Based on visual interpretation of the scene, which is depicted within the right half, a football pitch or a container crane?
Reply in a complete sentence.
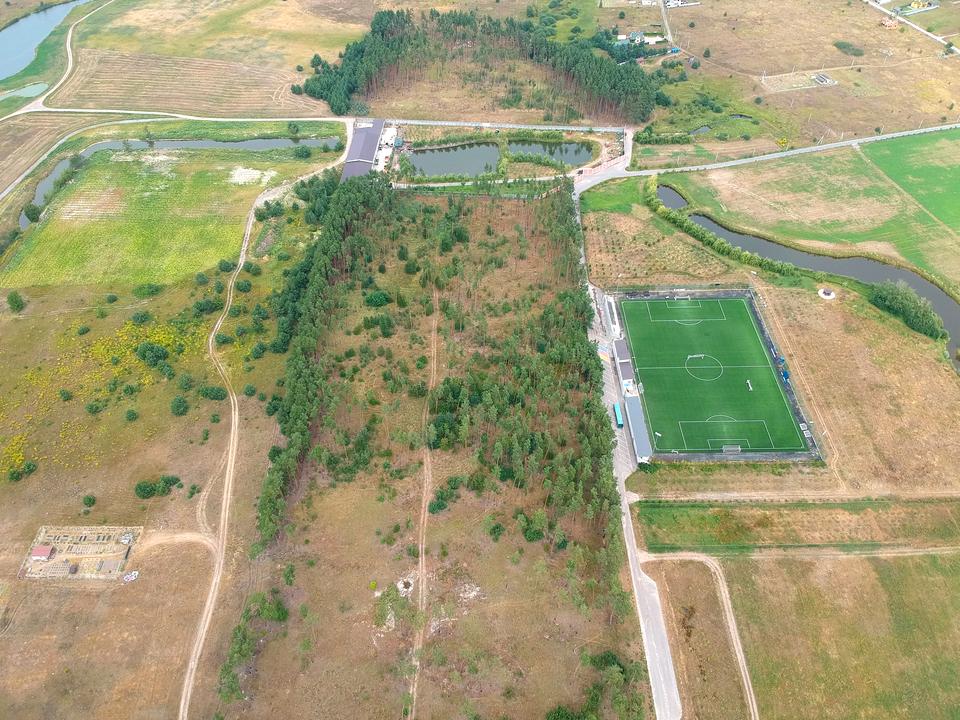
What appears within the right half is a football pitch.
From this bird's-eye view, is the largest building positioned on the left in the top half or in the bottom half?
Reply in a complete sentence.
The top half of the photo is where the largest building positioned on the left is.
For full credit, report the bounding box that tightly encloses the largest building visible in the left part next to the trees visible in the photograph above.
[340,118,384,194]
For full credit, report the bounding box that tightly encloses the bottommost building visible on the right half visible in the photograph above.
[623,392,655,466]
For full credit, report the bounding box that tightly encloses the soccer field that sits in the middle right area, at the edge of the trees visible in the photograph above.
[614,291,822,462]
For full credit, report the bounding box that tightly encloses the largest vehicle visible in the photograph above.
[610,400,624,428]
